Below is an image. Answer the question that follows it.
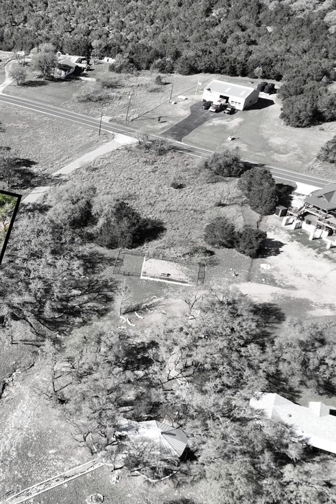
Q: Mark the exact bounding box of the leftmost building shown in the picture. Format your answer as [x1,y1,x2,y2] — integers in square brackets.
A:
[52,50,94,79]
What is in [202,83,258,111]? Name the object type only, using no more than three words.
building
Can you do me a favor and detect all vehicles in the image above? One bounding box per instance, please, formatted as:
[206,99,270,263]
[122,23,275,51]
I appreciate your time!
[209,97,228,112]
[223,106,236,115]
[201,99,212,108]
